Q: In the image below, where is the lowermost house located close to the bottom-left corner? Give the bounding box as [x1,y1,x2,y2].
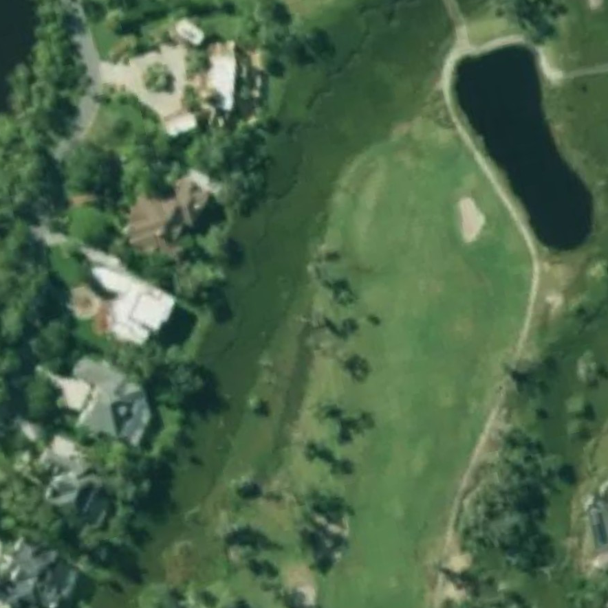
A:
[0,538,79,608]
